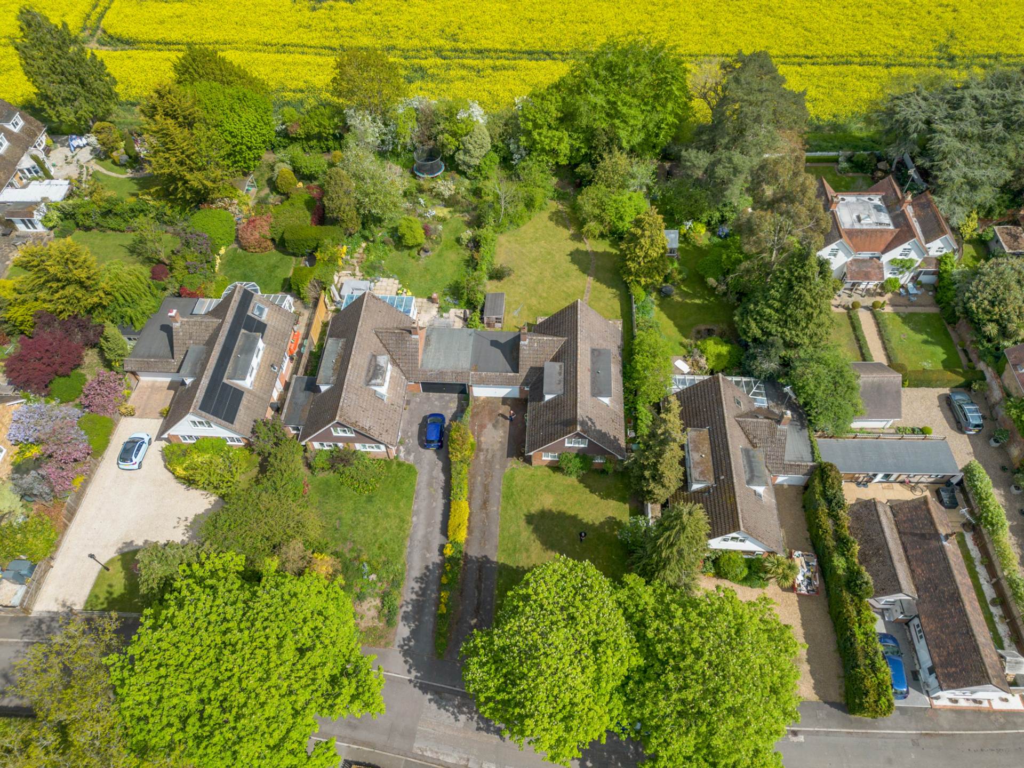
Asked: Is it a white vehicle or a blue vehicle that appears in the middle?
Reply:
blue vehicle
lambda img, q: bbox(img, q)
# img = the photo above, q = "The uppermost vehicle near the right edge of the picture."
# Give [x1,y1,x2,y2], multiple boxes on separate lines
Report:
[944,389,990,436]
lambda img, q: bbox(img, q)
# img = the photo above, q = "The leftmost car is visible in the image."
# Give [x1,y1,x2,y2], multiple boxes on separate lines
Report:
[112,427,153,474]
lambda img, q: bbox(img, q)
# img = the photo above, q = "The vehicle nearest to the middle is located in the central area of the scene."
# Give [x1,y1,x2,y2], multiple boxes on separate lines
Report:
[423,411,446,452]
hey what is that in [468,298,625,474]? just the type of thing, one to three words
house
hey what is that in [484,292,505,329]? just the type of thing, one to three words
shed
